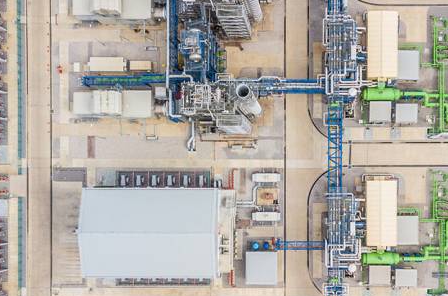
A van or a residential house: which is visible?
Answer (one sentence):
It is a residential house that can be seen here.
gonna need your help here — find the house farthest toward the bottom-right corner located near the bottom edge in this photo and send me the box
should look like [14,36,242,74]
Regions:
[392,267,418,288]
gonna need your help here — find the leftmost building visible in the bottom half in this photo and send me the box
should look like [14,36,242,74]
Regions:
[78,187,222,281]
